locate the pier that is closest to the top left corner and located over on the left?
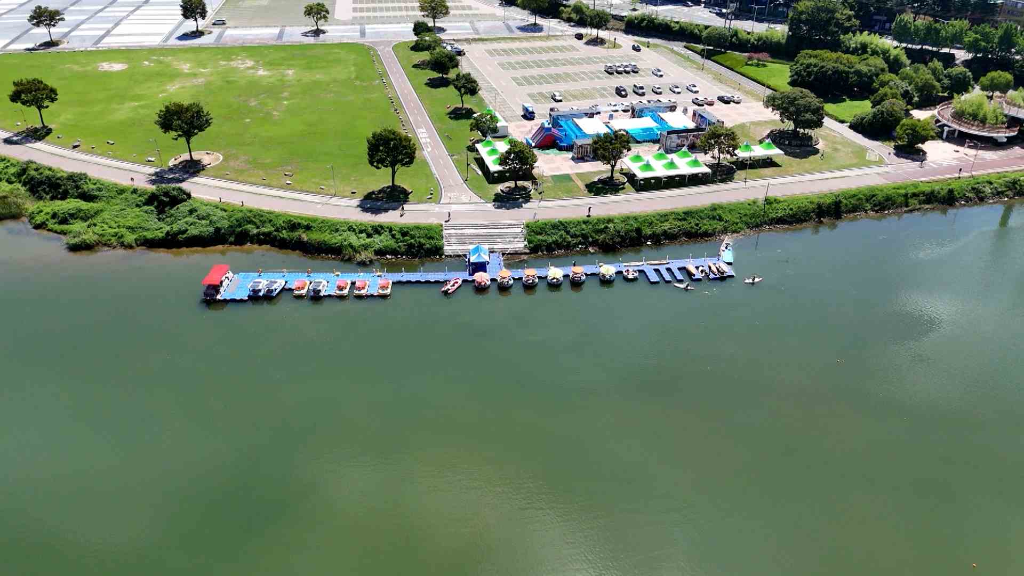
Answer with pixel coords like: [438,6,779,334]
[221,269,383,301]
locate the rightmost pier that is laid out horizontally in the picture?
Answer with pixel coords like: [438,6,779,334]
[502,253,733,284]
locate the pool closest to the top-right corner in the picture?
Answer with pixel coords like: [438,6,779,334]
[648,120,693,133]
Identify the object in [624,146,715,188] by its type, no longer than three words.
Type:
tent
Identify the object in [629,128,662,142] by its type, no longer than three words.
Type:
swimming pool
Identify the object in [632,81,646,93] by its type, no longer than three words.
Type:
vehicle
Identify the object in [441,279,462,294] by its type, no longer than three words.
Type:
boat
